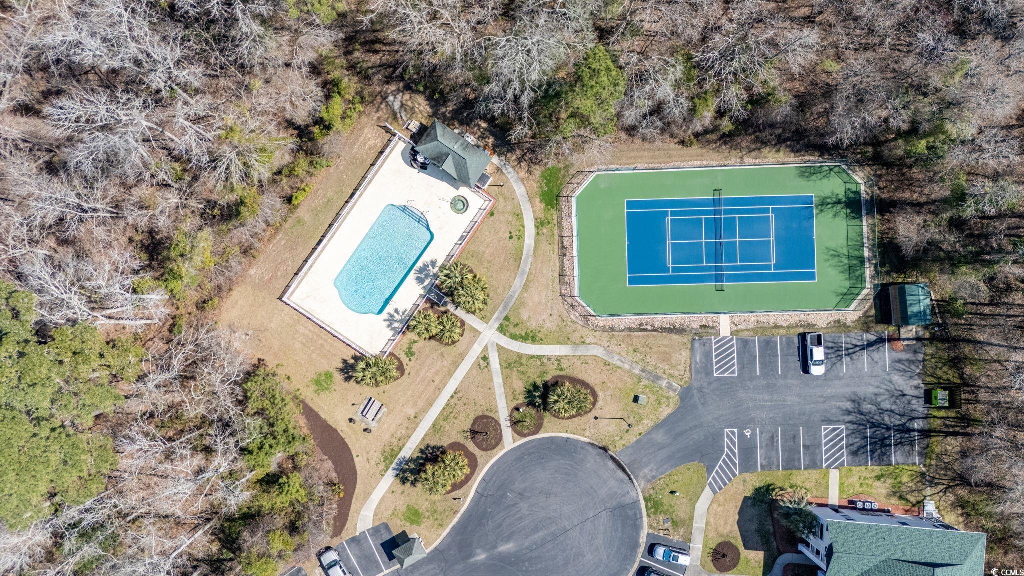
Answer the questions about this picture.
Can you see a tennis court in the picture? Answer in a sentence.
Yes, a tennis court is visible in the scene.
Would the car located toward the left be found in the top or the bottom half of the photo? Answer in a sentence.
Seen from above, the car located toward the left lies in the bottom half of the view.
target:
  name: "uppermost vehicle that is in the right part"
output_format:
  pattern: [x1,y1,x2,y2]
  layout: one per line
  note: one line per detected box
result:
[805,331,828,376]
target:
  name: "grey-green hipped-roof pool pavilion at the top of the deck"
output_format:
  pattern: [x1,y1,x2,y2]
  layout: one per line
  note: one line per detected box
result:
[415,119,492,188]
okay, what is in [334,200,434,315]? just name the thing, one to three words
swimming pool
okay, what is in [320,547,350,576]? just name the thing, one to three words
car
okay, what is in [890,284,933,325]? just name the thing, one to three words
shed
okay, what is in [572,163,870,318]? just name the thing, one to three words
tennis court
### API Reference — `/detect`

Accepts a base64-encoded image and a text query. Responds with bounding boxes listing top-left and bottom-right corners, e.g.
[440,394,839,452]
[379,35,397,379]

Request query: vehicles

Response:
[651,543,691,566]
[805,331,828,376]
[644,566,681,576]
[320,547,350,576]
